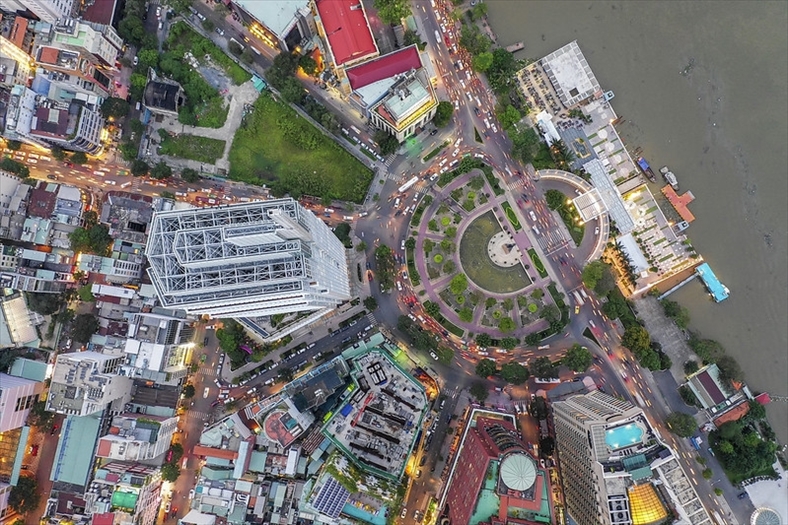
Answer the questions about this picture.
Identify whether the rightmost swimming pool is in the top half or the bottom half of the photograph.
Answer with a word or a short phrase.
bottom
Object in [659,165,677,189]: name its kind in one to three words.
boat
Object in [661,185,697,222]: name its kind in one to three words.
pier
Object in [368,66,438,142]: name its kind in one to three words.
building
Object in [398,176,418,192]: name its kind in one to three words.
vehicle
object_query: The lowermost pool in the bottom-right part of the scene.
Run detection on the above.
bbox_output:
[603,420,646,451]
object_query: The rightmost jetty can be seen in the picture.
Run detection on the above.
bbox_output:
[693,262,730,303]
